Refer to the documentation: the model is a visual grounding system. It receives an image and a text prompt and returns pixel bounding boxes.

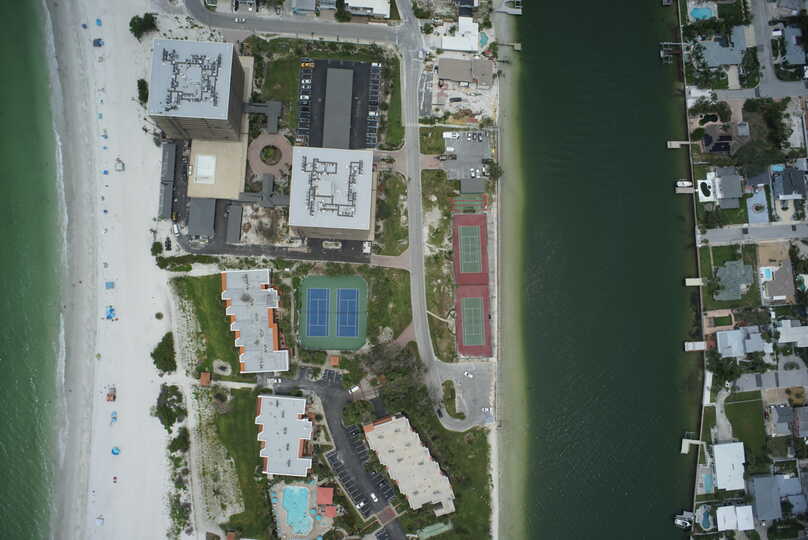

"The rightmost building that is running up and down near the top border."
[784,25,805,66]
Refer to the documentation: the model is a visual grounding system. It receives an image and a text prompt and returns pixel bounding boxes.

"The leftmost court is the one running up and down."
[298,276,333,350]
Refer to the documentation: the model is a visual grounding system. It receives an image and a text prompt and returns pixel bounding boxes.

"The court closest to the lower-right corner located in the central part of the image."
[455,284,493,356]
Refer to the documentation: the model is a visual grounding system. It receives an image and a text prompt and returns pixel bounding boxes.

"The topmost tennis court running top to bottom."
[453,212,489,284]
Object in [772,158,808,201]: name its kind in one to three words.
house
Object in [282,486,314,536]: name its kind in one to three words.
swimming pool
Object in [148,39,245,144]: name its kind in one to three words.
building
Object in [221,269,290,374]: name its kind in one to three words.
building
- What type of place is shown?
residential area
